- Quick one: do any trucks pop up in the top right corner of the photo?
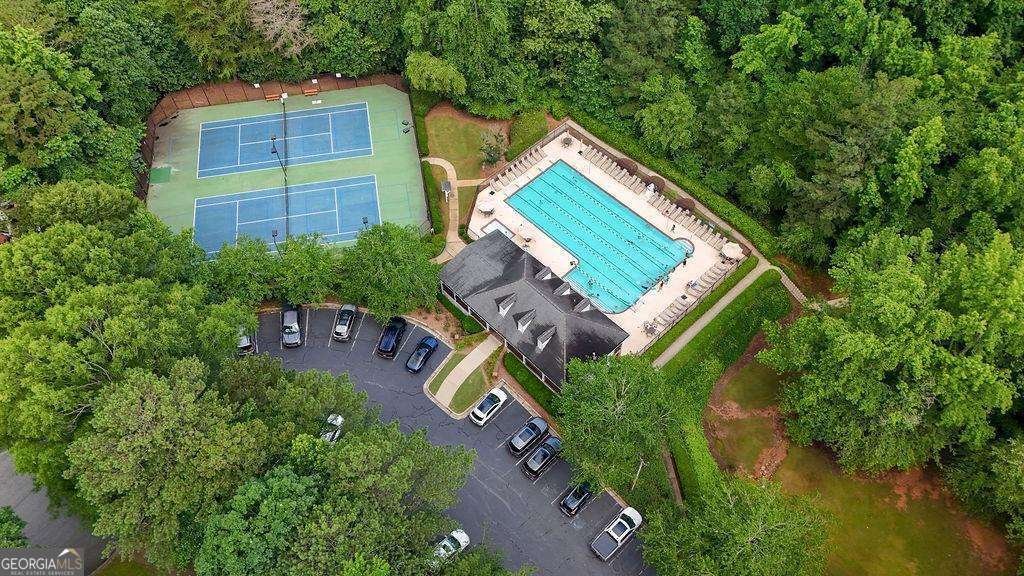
No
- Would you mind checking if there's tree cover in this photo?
Yes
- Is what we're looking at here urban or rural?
rural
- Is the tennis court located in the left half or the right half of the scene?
left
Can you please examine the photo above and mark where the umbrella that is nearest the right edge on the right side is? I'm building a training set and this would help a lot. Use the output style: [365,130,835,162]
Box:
[720,242,746,263]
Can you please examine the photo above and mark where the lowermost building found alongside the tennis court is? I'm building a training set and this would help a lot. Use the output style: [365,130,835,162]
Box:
[439,233,629,398]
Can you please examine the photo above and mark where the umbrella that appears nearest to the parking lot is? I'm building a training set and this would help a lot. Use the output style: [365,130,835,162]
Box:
[474,196,498,217]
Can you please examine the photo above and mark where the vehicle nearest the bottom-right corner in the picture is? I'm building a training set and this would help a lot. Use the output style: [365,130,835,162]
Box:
[588,504,646,565]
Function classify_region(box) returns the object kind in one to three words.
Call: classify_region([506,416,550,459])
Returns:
car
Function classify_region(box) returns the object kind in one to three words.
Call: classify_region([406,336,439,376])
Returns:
car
